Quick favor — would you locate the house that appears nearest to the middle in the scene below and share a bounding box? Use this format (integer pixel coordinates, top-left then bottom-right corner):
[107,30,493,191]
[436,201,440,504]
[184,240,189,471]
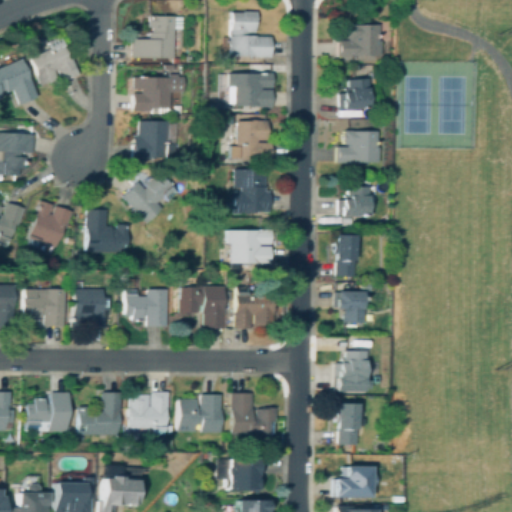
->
[218,230,276,264]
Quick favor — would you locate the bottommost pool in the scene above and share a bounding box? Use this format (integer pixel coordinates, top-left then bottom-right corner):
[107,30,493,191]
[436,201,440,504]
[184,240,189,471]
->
[164,492,178,507]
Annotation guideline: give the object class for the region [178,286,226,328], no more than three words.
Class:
house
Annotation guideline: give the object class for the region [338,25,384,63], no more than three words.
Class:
house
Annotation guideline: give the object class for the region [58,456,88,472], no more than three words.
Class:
swimming pool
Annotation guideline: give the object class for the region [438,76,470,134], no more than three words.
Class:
tennis court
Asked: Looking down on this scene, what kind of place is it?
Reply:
residential area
